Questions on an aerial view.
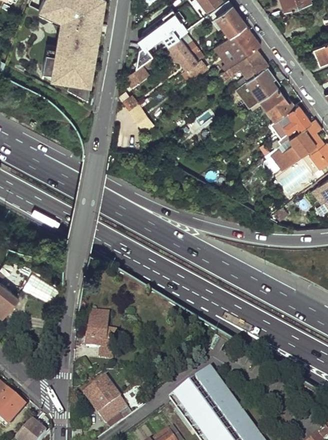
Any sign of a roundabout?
No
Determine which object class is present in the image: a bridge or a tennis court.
bridge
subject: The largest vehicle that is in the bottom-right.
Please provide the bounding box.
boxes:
[224,312,256,334]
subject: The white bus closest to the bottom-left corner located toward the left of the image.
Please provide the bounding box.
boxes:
[44,384,66,415]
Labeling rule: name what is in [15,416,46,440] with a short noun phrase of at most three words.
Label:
house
